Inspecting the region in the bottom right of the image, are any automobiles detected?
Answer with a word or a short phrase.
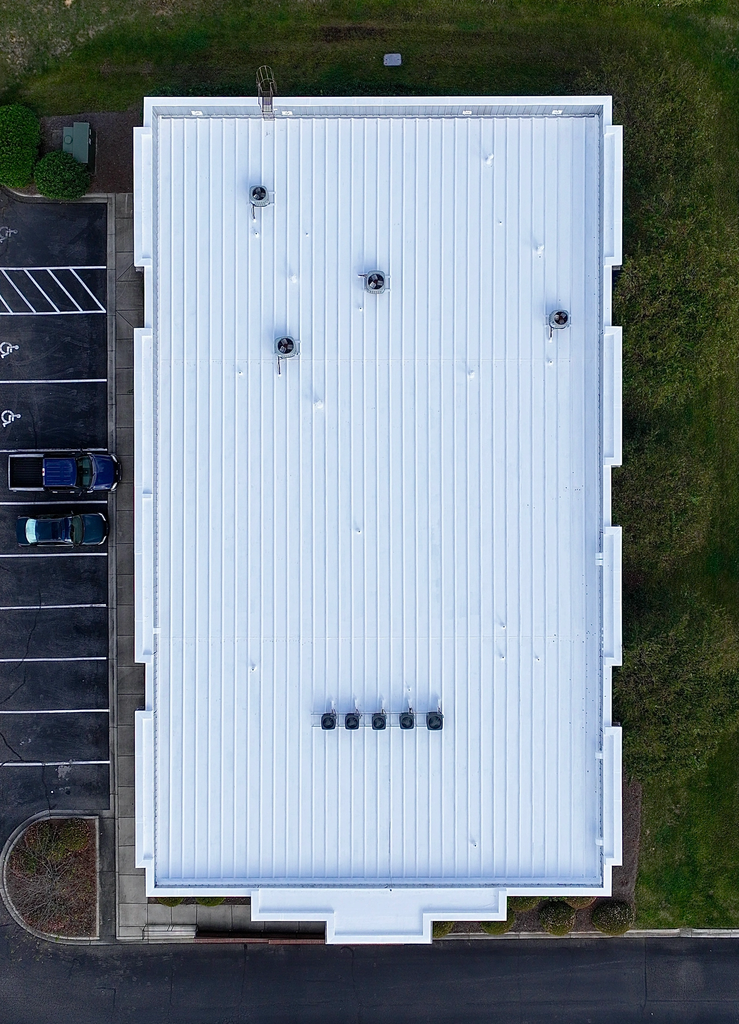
No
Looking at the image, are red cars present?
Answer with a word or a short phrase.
No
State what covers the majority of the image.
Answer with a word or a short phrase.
buildings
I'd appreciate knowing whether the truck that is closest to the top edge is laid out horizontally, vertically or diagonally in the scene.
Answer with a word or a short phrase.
horizontally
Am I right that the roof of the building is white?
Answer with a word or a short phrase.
Yes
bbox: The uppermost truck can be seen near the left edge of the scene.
[7,448,124,497]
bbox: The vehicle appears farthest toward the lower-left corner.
[16,510,111,550]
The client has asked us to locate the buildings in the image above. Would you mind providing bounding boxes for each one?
[134,96,623,944]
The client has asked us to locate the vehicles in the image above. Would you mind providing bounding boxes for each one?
[16,510,111,550]
[7,448,124,497]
